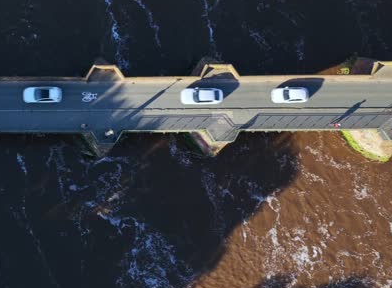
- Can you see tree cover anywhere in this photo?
No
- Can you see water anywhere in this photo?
Yes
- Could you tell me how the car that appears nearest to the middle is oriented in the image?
from left to right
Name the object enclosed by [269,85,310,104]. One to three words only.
car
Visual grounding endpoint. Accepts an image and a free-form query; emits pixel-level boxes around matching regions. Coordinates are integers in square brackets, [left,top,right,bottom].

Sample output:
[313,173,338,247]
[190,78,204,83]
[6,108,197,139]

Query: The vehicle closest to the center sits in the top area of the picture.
[178,86,223,106]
